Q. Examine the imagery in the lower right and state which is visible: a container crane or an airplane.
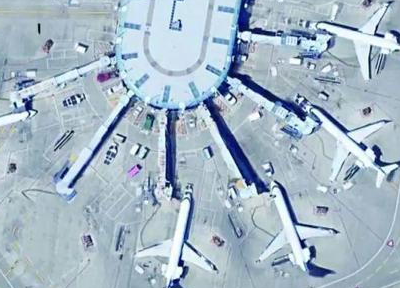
airplane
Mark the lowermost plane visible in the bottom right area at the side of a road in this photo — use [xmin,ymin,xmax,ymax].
[256,182,334,288]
